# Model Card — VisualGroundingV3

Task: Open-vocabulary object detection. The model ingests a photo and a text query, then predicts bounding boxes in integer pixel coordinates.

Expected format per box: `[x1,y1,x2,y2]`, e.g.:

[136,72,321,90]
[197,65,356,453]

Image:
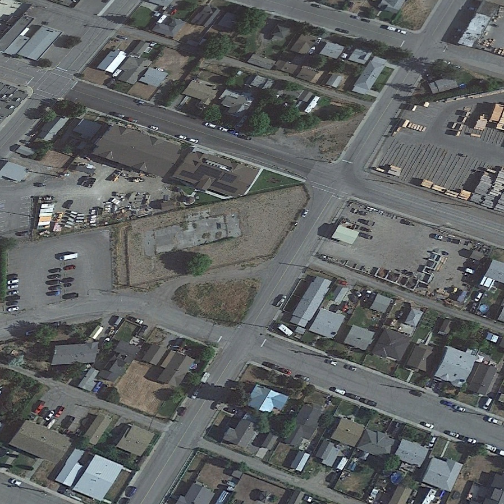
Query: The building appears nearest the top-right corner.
[460,0,498,51]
